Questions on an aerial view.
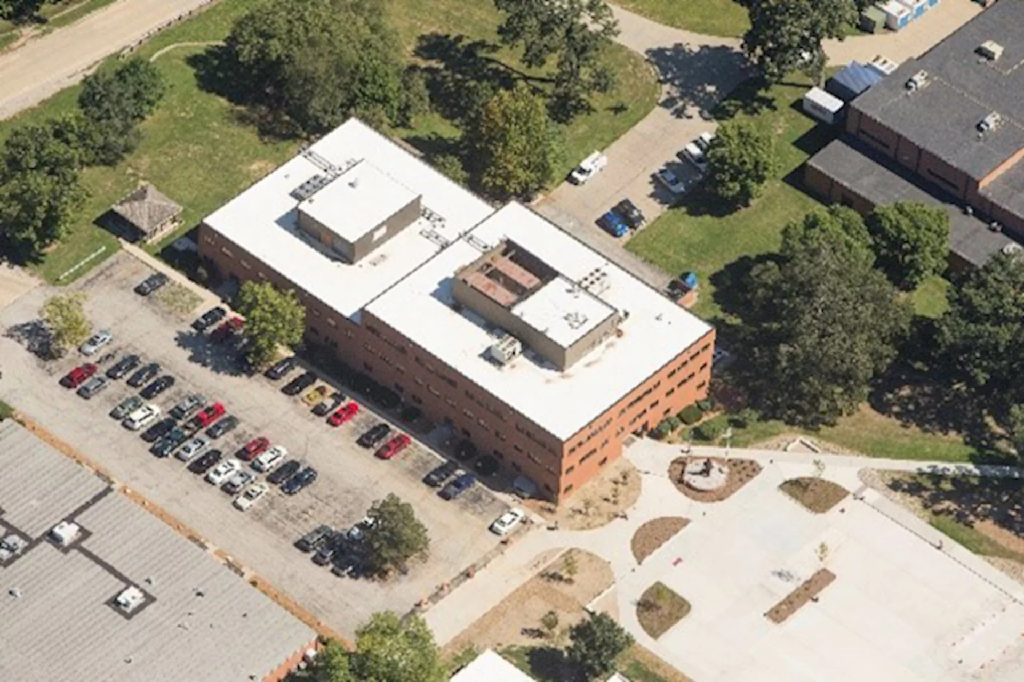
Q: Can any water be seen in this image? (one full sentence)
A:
No, there's no water in this view.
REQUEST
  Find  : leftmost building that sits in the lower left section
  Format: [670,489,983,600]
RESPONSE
[0,409,319,682]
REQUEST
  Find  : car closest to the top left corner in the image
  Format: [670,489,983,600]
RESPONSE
[133,272,168,298]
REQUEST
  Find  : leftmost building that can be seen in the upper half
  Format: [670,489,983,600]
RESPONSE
[110,184,183,245]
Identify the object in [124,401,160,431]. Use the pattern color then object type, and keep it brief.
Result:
white car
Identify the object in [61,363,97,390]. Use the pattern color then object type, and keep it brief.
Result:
red car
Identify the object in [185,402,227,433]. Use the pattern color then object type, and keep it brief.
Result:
red truck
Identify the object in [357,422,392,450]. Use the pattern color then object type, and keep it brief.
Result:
black car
